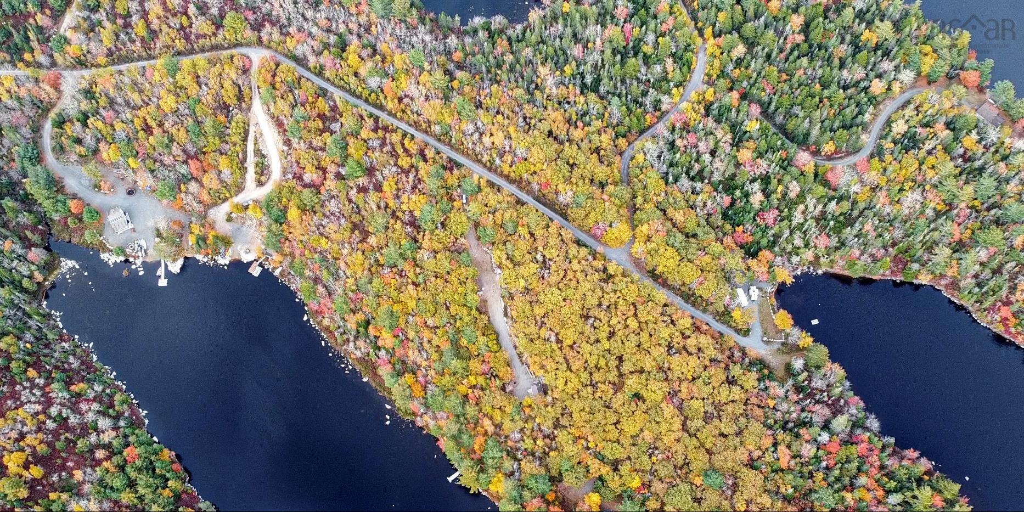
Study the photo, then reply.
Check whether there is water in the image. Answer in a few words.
Yes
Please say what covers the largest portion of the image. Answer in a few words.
trees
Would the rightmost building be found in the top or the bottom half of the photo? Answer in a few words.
top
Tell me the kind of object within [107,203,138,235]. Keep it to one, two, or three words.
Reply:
house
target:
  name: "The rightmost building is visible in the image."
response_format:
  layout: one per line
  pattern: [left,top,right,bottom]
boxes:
[976,102,1005,128]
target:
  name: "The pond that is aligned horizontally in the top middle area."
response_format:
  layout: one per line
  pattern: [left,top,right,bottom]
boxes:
[420,0,549,35]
